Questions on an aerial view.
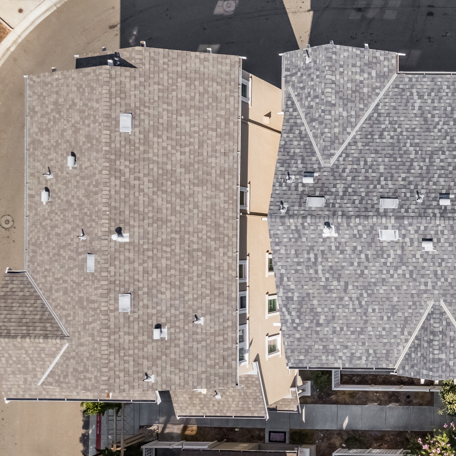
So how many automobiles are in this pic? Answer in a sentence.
The picture shows no automobiles.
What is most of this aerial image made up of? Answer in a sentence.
The scene is dominated by buildings.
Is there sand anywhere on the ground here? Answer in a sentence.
No, no sand is visible.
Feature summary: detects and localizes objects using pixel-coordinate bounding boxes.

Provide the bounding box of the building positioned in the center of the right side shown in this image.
[266,37,456,387]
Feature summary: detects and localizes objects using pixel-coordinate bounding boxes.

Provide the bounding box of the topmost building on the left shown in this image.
[0,39,319,421]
